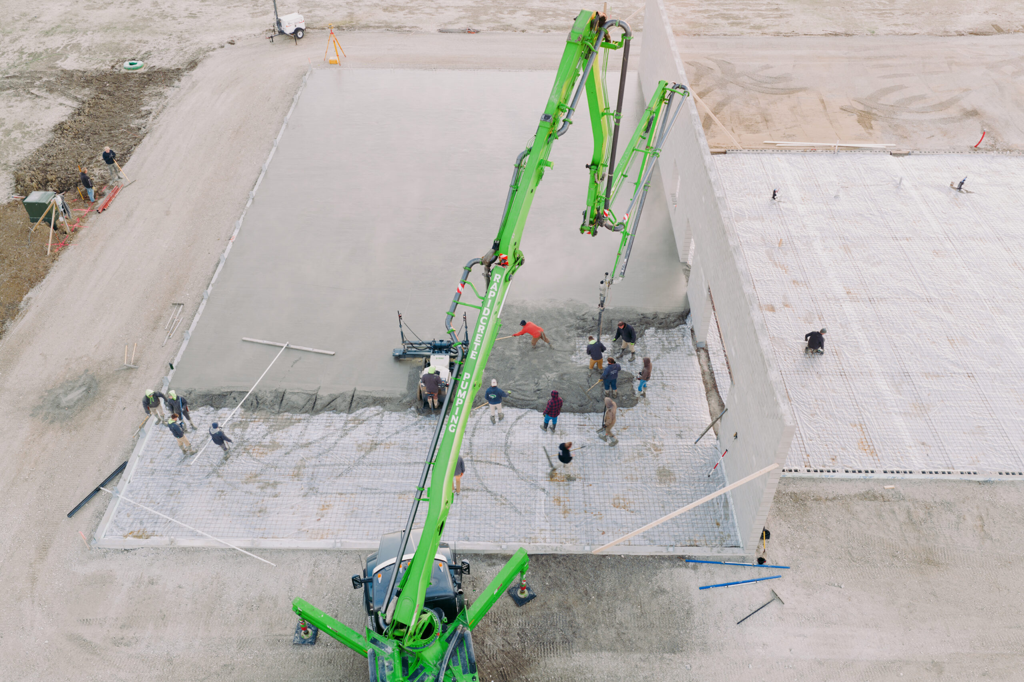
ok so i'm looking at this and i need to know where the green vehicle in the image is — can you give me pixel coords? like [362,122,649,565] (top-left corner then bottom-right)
[290,3,689,682]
